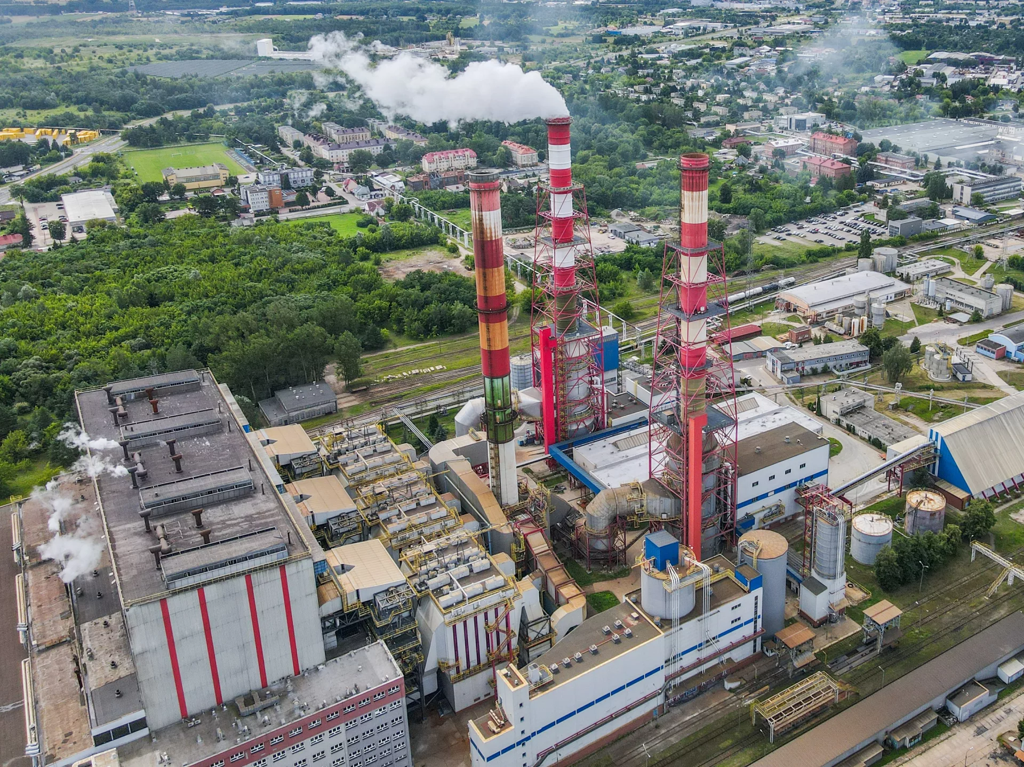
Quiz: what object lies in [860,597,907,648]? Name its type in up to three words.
shed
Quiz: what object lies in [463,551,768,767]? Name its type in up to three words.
building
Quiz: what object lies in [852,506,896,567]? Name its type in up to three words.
storage tank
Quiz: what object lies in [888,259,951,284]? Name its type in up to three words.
building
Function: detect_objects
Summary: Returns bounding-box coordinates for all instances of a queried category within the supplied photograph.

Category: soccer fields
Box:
[134,142,239,174]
